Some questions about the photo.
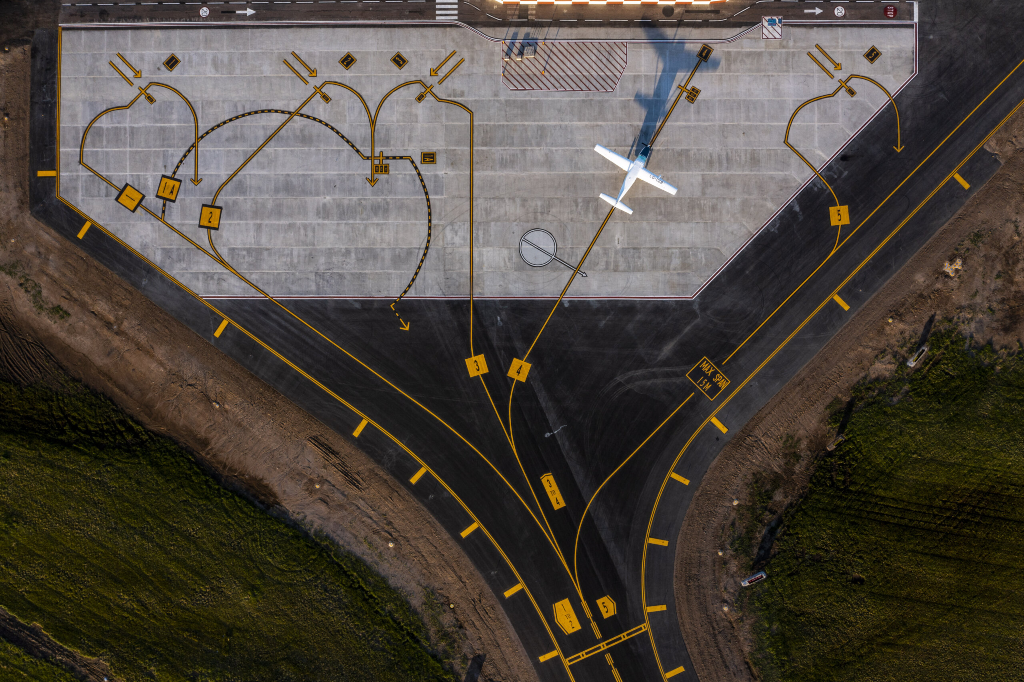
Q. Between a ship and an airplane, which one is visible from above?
airplane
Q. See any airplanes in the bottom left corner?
No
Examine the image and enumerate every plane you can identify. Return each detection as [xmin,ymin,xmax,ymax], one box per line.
[594,143,678,214]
